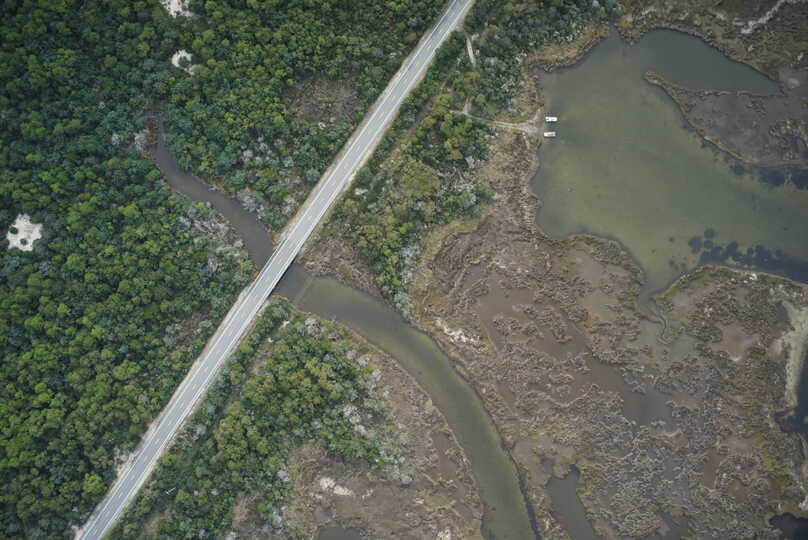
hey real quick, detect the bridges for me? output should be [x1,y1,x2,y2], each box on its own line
[241,226,308,309]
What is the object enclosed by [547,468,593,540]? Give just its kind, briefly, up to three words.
pond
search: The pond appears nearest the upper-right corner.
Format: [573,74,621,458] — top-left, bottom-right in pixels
[529,25,808,342]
